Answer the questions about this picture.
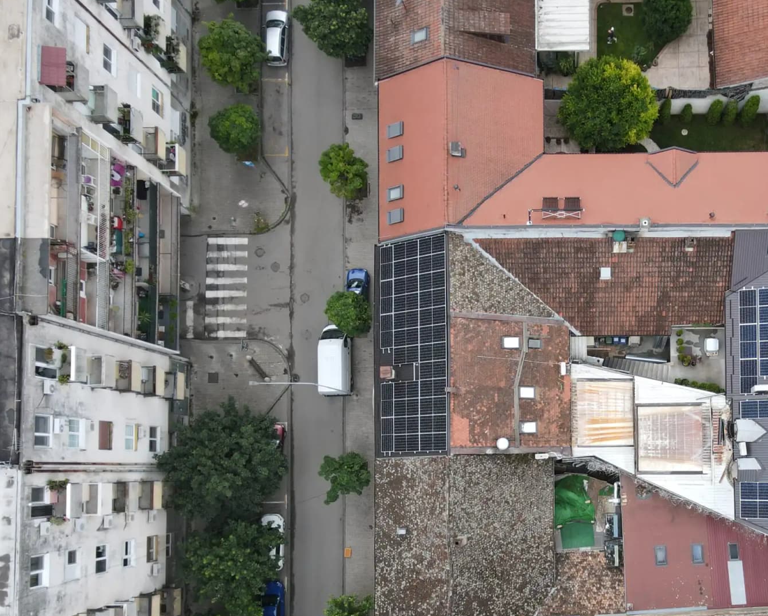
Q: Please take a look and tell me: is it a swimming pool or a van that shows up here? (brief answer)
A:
van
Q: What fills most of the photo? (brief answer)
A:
buildings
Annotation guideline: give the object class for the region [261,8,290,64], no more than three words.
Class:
car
